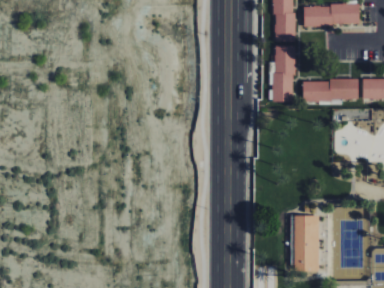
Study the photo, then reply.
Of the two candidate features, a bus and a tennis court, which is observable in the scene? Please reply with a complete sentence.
This aerial view contains a tennis court.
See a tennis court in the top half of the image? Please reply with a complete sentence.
No, no tennis court is visible in the top half of the image.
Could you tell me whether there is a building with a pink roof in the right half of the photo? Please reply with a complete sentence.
Yes, in the right half of the photo there is a building with a pink roof.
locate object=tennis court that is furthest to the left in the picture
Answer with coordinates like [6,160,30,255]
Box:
[335,207,370,280]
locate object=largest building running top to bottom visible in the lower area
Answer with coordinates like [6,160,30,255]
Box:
[295,216,320,272]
